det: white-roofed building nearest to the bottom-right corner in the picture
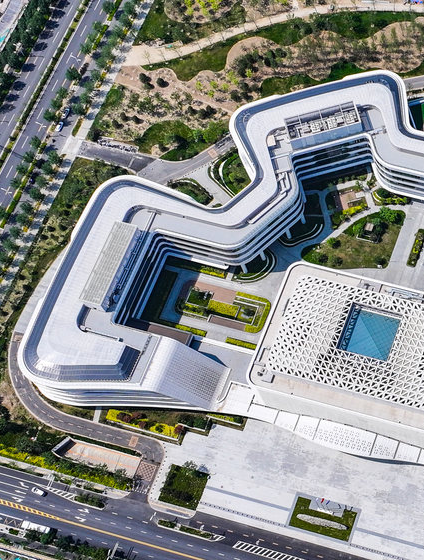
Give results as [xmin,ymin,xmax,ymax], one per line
[249,261,424,449]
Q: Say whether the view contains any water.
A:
No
